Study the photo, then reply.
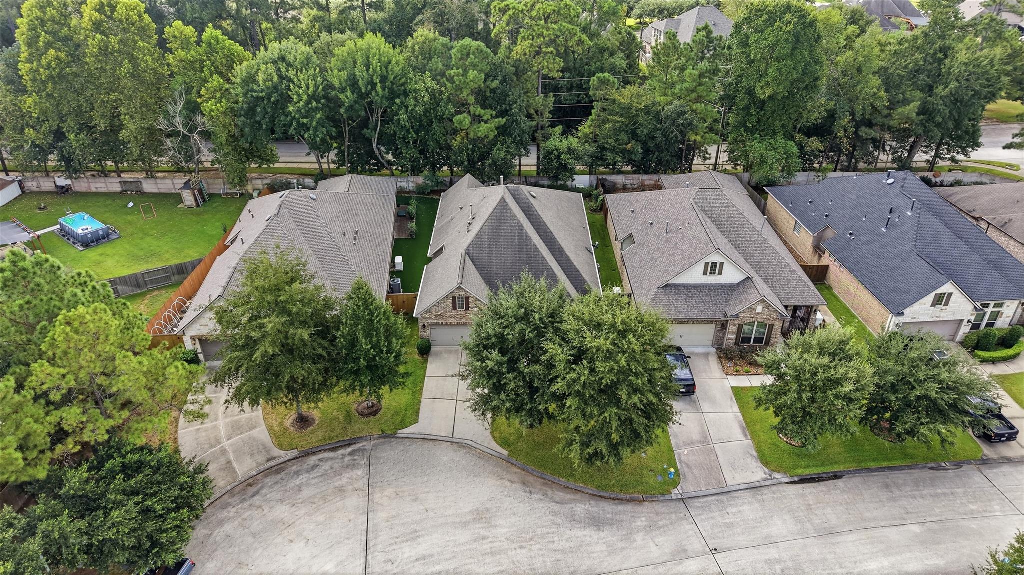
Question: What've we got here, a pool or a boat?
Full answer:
The image shows a pool.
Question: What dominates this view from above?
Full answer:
The largest share of the image is taken up by trees.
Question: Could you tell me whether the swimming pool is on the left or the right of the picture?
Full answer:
It is on the left.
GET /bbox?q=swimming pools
[57,212,112,248]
